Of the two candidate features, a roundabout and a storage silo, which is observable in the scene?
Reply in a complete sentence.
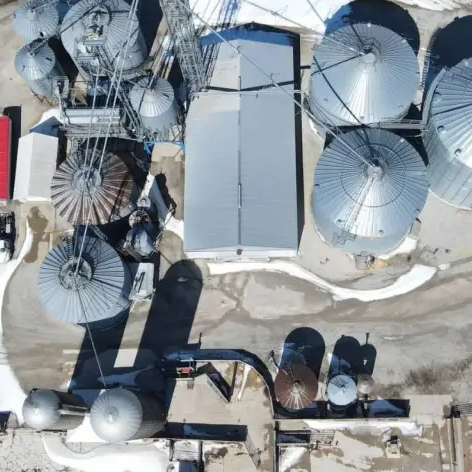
Of the two, only a storage silo appears.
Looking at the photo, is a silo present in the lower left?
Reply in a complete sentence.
Yes, looking in the lower left, one can make out a silo.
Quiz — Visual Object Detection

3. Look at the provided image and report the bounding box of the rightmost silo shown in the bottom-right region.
[354,374,375,398]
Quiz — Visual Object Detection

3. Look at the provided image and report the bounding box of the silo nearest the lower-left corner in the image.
[21,388,91,431]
